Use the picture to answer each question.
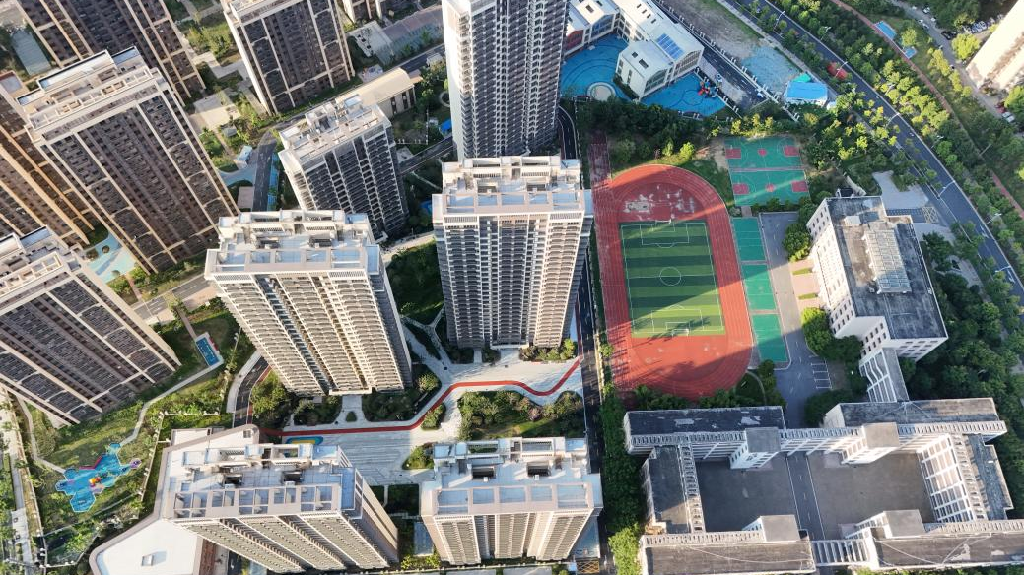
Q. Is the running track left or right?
right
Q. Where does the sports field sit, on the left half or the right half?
right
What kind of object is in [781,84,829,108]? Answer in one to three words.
shed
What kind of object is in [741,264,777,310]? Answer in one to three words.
sports court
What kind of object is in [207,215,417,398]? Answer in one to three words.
building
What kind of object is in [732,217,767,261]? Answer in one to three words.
sports court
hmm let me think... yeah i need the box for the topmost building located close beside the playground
[0,223,183,423]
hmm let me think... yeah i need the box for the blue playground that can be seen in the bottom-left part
[57,443,128,512]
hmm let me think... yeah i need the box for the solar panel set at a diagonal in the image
[658,32,684,56]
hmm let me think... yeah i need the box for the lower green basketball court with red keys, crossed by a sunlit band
[729,169,812,205]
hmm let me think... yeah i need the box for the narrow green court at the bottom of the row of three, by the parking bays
[751,314,789,363]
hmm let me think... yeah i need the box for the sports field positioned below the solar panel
[618,220,727,336]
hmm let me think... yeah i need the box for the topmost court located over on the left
[193,334,223,365]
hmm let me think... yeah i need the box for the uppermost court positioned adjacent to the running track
[724,136,805,169]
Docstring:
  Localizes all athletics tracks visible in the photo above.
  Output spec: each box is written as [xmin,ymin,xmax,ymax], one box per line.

[581,134,753,410]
